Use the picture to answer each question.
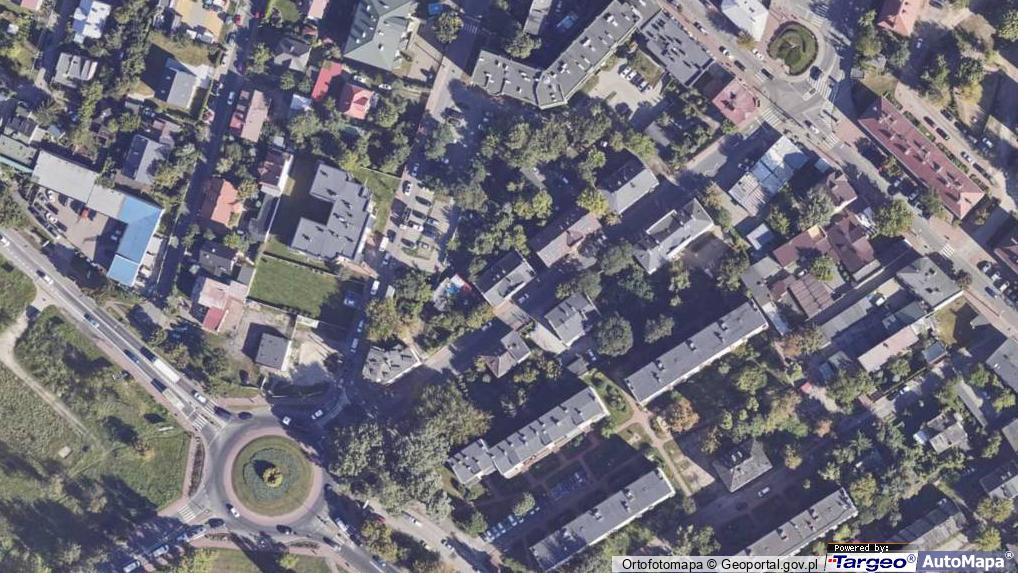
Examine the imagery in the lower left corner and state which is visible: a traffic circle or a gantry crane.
traffic circle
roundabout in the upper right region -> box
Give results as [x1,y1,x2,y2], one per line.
[746,0,838,98]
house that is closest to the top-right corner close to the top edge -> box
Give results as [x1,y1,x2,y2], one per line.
[877,0,922,38]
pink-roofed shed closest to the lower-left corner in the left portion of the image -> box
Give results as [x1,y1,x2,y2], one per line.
[202,308,228,332]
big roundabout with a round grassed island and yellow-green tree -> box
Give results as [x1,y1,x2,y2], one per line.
[207,410,336,541]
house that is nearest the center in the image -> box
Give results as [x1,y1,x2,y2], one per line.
[474,252,537,307]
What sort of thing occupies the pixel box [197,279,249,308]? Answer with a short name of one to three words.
house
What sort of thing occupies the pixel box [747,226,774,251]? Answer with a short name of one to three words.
shed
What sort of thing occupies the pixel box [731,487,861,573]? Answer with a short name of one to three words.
building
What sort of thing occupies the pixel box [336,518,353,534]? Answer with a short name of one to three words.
vehicle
